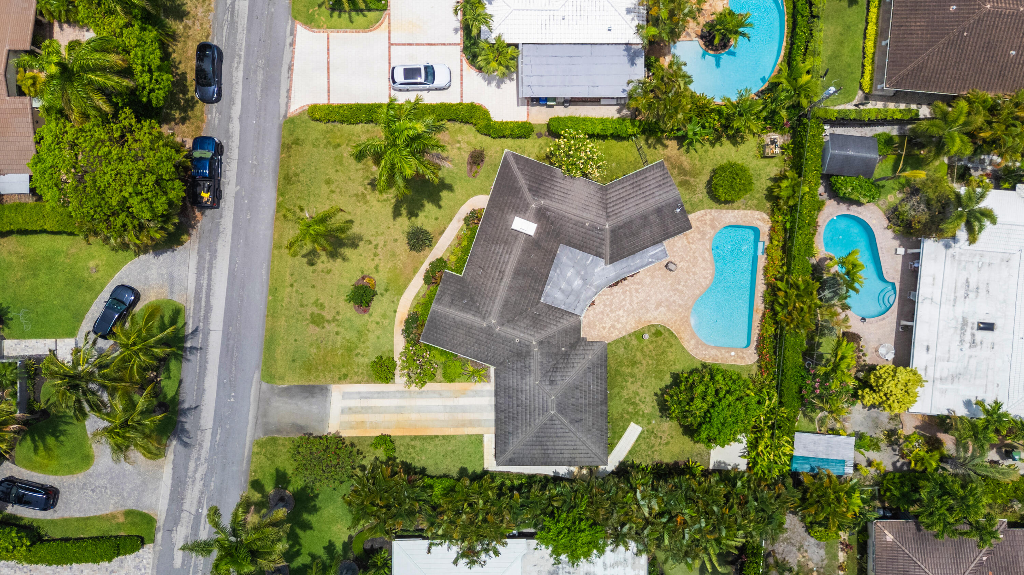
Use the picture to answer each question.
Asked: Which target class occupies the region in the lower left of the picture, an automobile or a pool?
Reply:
automobile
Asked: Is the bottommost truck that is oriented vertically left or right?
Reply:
left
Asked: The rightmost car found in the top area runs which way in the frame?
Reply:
horizontally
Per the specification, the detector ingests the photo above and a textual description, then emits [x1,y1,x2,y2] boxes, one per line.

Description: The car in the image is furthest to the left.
[0,476,51,514]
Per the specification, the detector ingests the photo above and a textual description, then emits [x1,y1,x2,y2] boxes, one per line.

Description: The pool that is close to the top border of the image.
[668,0,781,105]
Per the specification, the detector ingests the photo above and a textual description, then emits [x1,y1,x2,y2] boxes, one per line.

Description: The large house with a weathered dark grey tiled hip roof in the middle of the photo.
[420,149,692,468]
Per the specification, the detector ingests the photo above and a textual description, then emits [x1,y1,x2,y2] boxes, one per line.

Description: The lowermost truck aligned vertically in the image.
[188,138,222,206]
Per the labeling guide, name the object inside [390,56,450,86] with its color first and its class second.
white car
